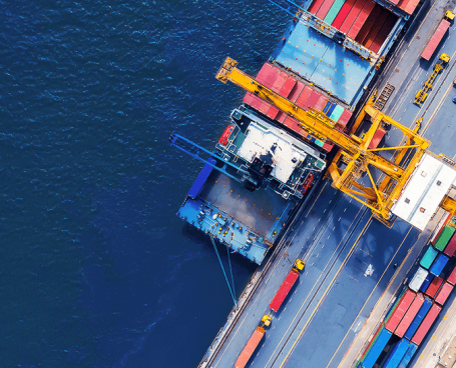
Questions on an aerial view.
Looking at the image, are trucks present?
Yes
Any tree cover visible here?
No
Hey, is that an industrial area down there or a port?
port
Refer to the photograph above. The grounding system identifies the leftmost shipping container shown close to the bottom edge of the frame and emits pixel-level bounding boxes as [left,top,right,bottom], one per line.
[233,329,263,368]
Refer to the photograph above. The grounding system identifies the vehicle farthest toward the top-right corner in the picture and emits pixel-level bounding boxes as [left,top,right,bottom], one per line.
[440,7,456,23]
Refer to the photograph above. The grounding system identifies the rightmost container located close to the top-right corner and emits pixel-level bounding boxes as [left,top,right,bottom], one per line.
[421,18,451,61]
